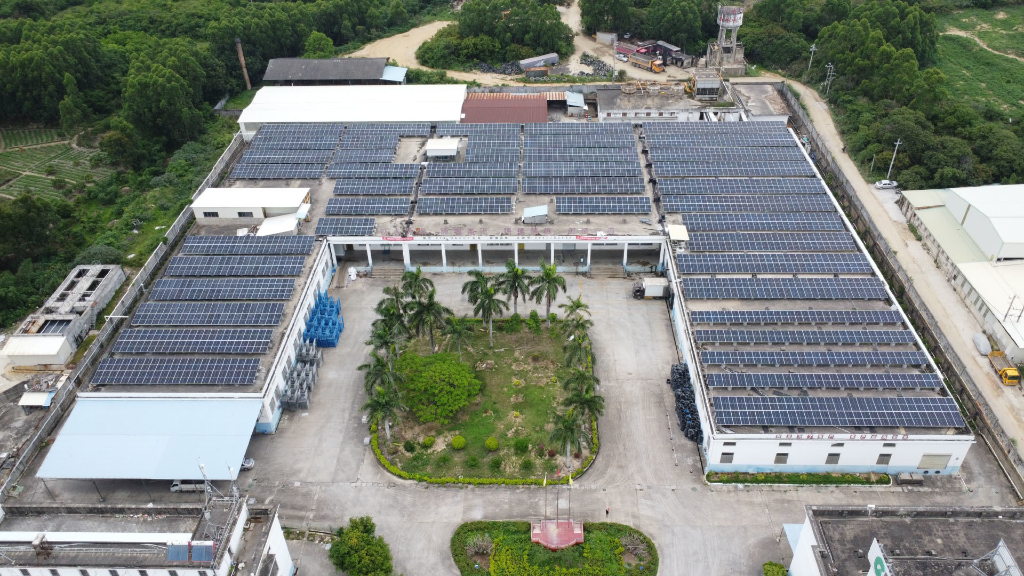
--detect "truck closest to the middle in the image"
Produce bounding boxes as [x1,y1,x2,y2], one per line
[633,276,667,298]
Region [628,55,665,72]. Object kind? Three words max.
vehicle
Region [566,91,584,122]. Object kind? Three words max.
shed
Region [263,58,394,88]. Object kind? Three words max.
shed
